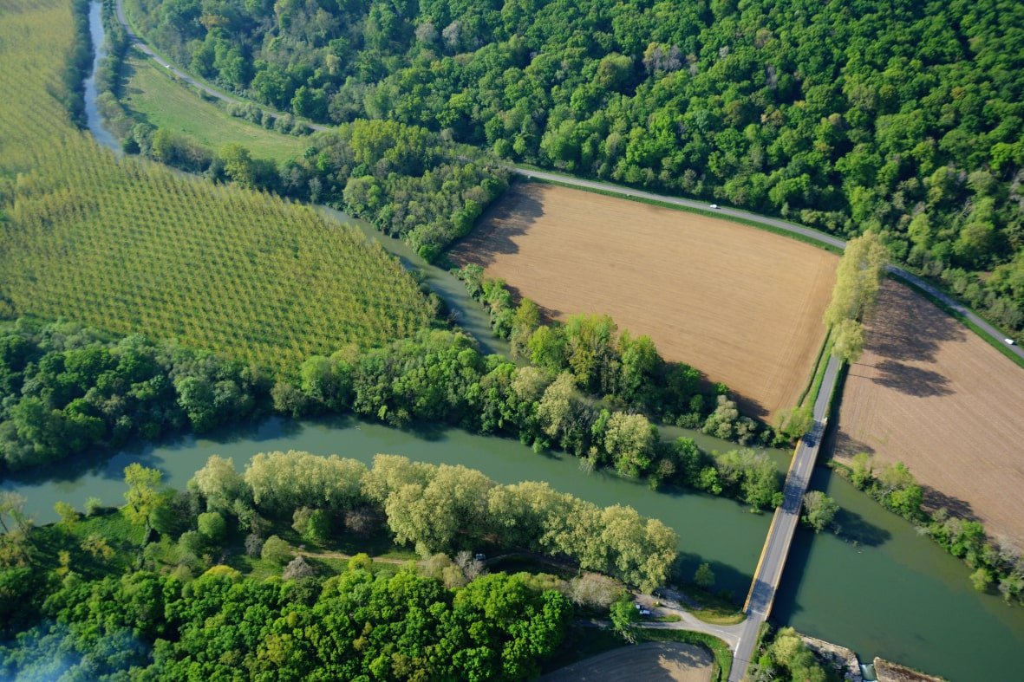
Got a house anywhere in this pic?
No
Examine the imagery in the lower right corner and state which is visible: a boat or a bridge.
bridge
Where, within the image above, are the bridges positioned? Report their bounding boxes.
[744,422,825,620]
